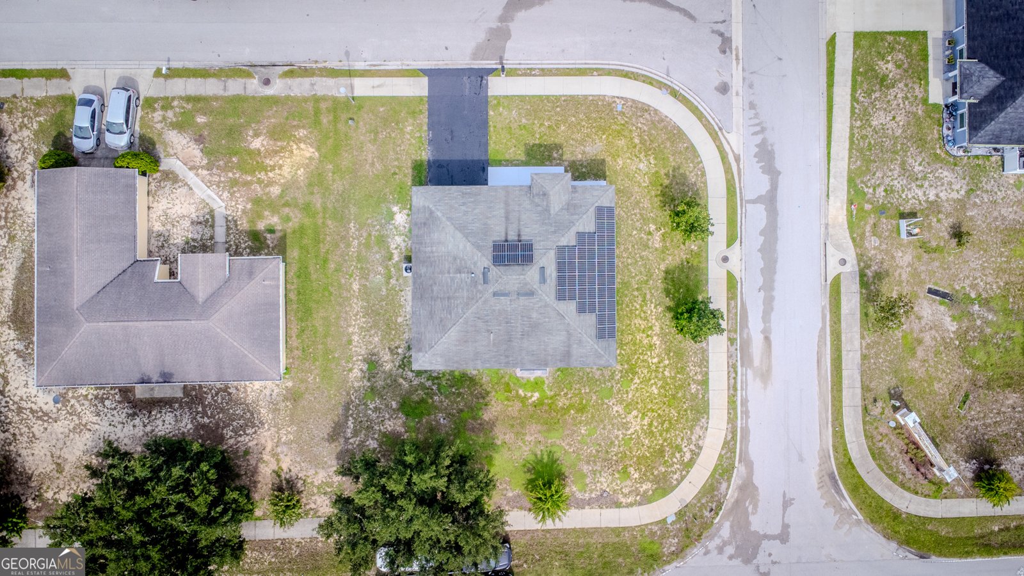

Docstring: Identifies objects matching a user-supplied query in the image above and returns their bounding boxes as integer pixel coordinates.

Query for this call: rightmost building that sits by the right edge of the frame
[940,0,1024,148]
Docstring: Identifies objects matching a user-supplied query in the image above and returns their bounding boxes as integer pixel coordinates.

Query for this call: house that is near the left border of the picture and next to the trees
[34,167,291,388]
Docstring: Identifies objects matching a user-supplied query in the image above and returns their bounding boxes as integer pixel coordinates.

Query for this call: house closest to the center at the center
[411,172,617,371]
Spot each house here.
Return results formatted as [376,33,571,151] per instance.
[34,167,291,388]
[411,172,617,371]
[940,0,1024,148]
